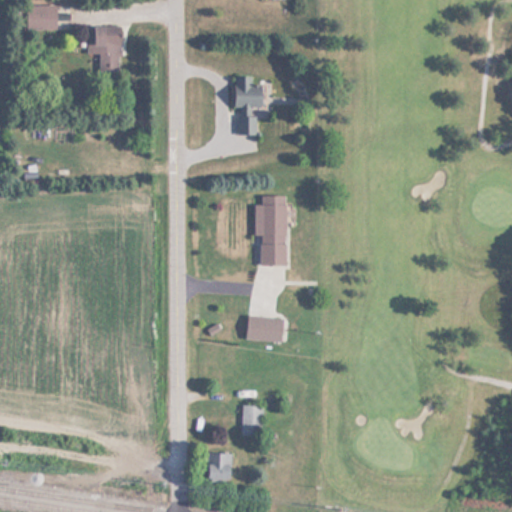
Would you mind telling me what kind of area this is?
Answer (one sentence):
It's a golf course.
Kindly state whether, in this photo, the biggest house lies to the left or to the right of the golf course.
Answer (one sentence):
Relative to the golf course, the biggest house lies to the left.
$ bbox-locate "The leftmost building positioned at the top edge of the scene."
[28,4,58,30]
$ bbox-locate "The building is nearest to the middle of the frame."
[256,196,288,266]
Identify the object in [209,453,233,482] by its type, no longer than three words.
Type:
house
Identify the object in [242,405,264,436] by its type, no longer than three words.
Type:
house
